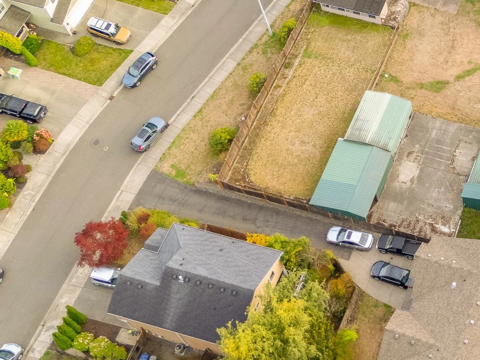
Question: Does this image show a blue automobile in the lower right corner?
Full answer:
No, there's no blue automobile to be seen in the lower right corner.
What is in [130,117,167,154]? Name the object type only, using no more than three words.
car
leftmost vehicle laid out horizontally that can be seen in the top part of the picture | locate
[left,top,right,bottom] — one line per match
[0,94,48,122]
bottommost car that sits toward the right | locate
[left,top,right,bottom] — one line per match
[368,263,412,292]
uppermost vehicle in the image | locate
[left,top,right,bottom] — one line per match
[85,15,132,44]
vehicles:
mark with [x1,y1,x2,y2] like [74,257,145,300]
[85,15,132,44]
[0,94,48,122]
[130,117,167,154]
[123,50,158,87]
[82,264,126,289]
[373,233,426,262]
[368,263,412,292]
[326,228,375,254]
[0,344,26,360]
